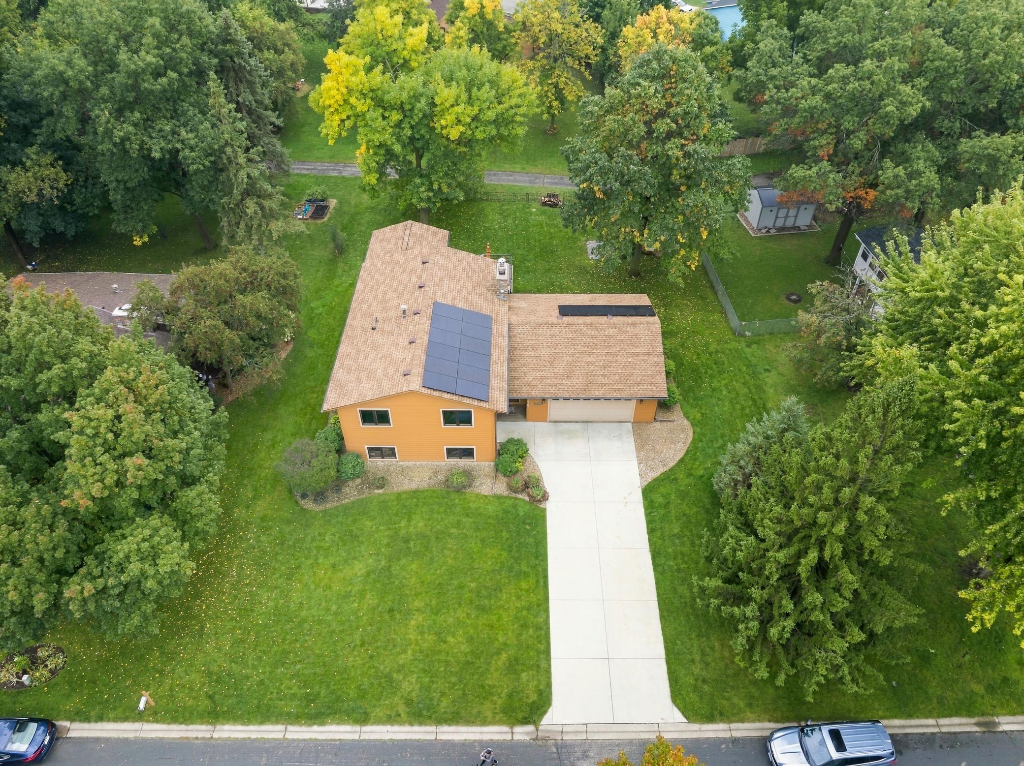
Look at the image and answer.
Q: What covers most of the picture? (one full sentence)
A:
What you mostly see from above here is trees.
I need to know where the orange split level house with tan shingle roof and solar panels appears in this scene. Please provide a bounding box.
[319,221,675,462]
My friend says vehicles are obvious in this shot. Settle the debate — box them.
[760,718,896,766]
[0,718,64,766]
